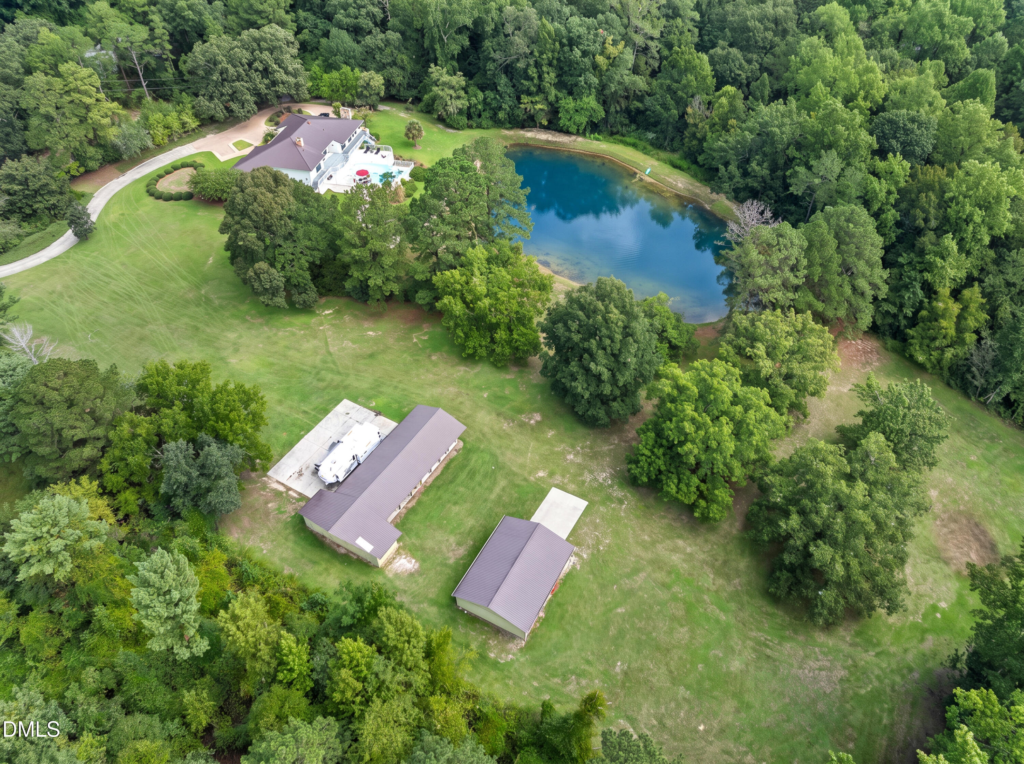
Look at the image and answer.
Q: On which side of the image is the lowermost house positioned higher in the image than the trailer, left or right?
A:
left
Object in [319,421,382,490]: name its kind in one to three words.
trailer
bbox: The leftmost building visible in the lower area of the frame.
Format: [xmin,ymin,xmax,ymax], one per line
[297,403,467,567]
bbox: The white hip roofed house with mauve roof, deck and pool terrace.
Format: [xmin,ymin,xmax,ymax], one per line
[231,106,386,189]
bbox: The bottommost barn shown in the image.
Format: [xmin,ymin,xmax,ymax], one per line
[450,514,576,643]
